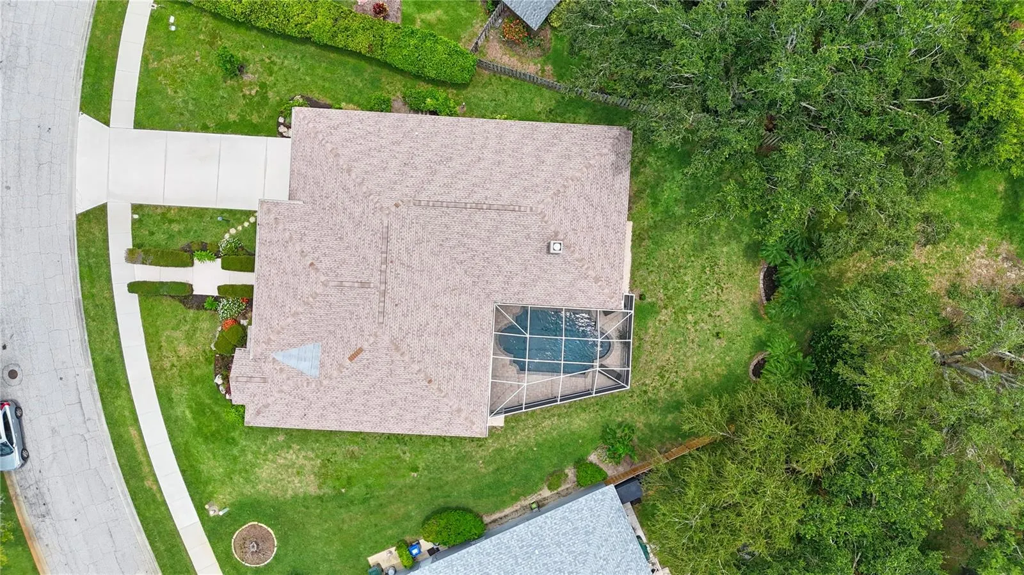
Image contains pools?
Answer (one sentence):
Yes, the photo shows a pool.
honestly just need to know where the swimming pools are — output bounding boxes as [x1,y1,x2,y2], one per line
[494,306,616,379]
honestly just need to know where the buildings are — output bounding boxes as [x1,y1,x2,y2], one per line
[394,479,653,575]
[497,0,562,36]
[229,105,632,439]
